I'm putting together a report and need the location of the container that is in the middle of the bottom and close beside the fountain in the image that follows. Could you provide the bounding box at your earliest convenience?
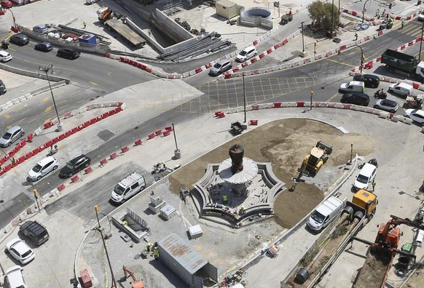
[155,229,220,288]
